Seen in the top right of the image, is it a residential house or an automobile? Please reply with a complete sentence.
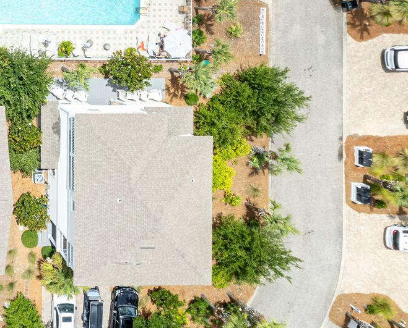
What appears in the top right of the image is an automobile.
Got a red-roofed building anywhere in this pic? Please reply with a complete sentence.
No, no red-roofed building is visible in the scene.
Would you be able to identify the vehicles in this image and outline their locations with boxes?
[50,286,79,328]
[385,223,408,248]
[381,46,408,68]
[107,286,138,328]
[81,292,103,328]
